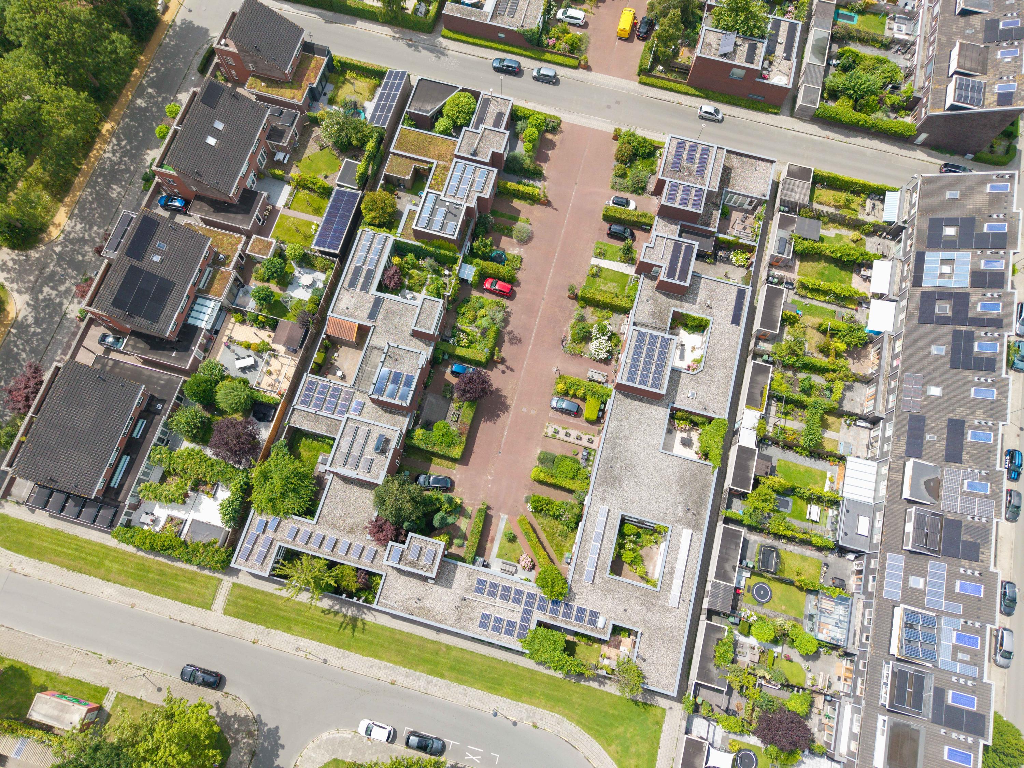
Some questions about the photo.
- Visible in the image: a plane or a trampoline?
trampoline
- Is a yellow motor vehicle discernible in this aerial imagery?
Yes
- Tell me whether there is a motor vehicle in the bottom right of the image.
Yes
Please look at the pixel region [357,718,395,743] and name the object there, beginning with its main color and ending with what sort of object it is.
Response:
white car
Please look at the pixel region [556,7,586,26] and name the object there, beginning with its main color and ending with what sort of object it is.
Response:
white car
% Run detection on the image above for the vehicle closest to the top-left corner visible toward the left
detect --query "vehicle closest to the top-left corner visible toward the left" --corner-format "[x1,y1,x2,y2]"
[155,193,189,212]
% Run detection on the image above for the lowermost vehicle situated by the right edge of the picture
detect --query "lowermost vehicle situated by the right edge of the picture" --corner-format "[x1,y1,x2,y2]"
[993,626,1018,670]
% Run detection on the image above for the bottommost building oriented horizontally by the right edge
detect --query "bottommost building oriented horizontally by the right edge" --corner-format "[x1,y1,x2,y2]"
[822,700,984,768]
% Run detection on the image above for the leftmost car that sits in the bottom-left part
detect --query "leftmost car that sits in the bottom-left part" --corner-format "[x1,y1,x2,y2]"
[179,665,222,690]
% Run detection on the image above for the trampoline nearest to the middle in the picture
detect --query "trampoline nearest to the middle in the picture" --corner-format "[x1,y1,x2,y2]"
[490,244,507,265]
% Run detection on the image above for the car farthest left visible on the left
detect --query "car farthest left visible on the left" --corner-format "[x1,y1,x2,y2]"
[94,332,125,351]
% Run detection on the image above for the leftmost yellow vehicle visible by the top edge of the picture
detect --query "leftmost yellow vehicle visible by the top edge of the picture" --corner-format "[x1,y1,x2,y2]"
[618,10,635,36]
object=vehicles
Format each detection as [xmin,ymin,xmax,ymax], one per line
[549,396,582,416]
[94,332,125,351]
[1013,340,1024,371]
[357,718,395,743]
[1001,580,1021,616]
[532,67,558,85]
[637,16,653,39]
[939,161,973,173]
[492,56,522,75]
[618,10,635,36]
[179,665,222,690]
[415,472,453,491]
[155,193,189,212]
[993,626,1018,670]
[606,223,636,242]
[403,731,445,756]
[698,104,723,122]
[449,361,478,375]
[556,7,586,26]
[609,194,637,212]
[1006,450,1024,479]
[481,277,516,298]
[1006,488,1024,523]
